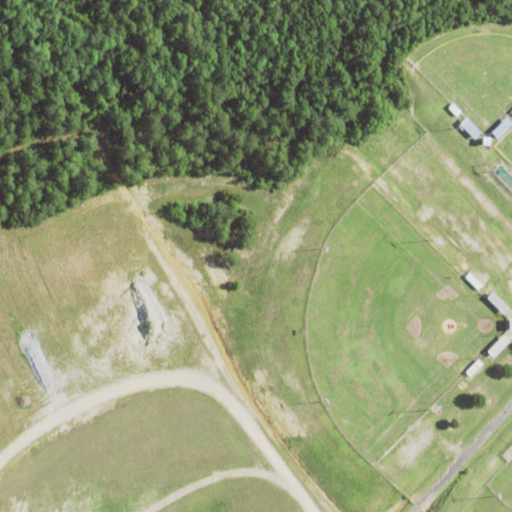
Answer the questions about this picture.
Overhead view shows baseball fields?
Yes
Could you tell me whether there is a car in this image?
No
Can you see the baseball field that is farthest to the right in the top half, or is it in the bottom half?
top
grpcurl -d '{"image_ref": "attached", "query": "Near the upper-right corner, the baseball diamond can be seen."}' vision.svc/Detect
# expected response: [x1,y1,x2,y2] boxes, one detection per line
[416,34,512,135]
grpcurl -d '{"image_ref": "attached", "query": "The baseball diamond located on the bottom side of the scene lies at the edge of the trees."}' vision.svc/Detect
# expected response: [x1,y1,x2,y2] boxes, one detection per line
[306,184,503,466]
